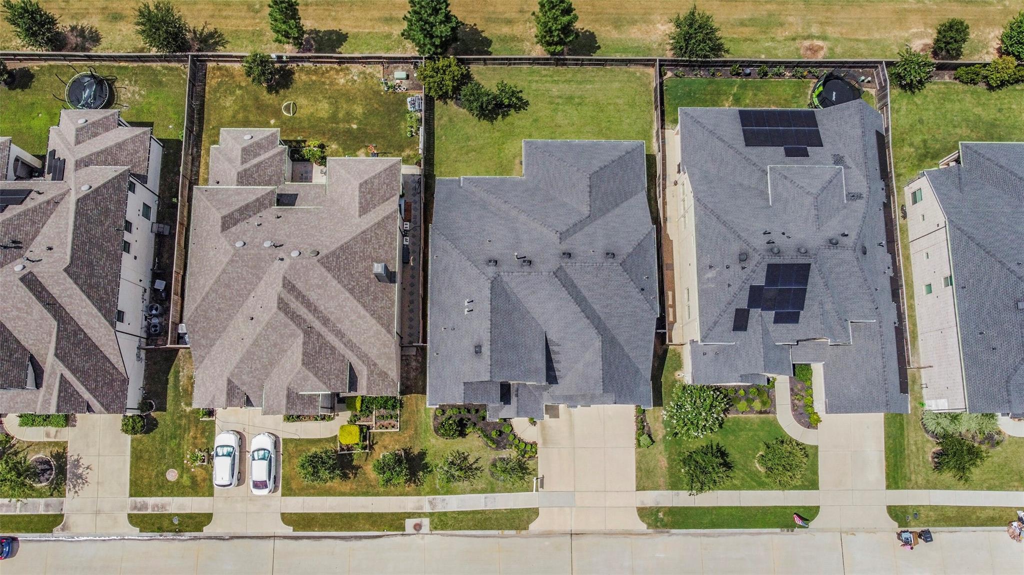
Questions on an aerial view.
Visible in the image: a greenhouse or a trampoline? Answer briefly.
trampoline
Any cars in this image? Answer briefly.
Yes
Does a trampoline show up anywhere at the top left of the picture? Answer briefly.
Yes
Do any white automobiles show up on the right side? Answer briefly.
No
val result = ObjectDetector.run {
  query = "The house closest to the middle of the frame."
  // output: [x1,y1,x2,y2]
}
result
[426,139,658,421]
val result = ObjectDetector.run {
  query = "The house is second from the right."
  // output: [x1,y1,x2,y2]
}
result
[673,99,911,414]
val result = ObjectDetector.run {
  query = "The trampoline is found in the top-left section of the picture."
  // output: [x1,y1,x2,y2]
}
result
[49,60,125,109]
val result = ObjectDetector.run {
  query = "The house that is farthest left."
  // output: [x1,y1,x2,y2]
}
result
[0,108,162,415]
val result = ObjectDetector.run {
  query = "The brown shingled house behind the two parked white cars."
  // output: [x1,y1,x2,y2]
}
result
[182,127,405,415]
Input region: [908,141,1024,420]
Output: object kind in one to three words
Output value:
house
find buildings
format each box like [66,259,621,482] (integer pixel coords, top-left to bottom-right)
[673,99,911,414]
[182,127,405,415]
[426,139,658,421]
[0,108,162,415]
[908,141,1024,420]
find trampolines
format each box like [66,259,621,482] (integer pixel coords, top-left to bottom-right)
[810,64,869,108]
[49,60,125,109]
